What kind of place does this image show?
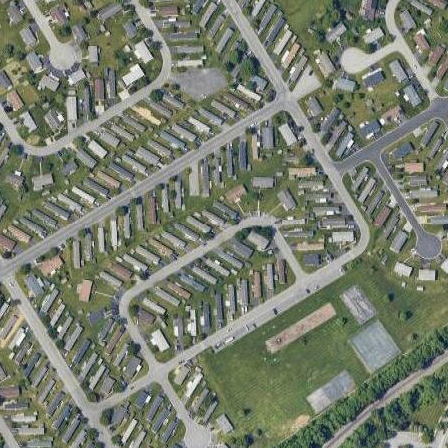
residential area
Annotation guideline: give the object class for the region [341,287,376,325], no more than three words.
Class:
sports court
